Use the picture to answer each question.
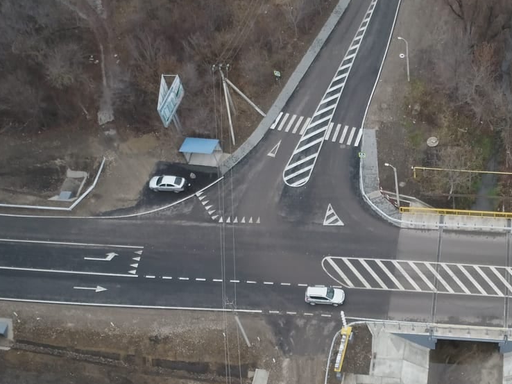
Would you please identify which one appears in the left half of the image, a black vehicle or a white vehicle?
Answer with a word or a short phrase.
white vehicle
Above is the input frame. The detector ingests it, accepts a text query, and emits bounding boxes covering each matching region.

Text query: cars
[304,285,346,307]
[149,174,190,194]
